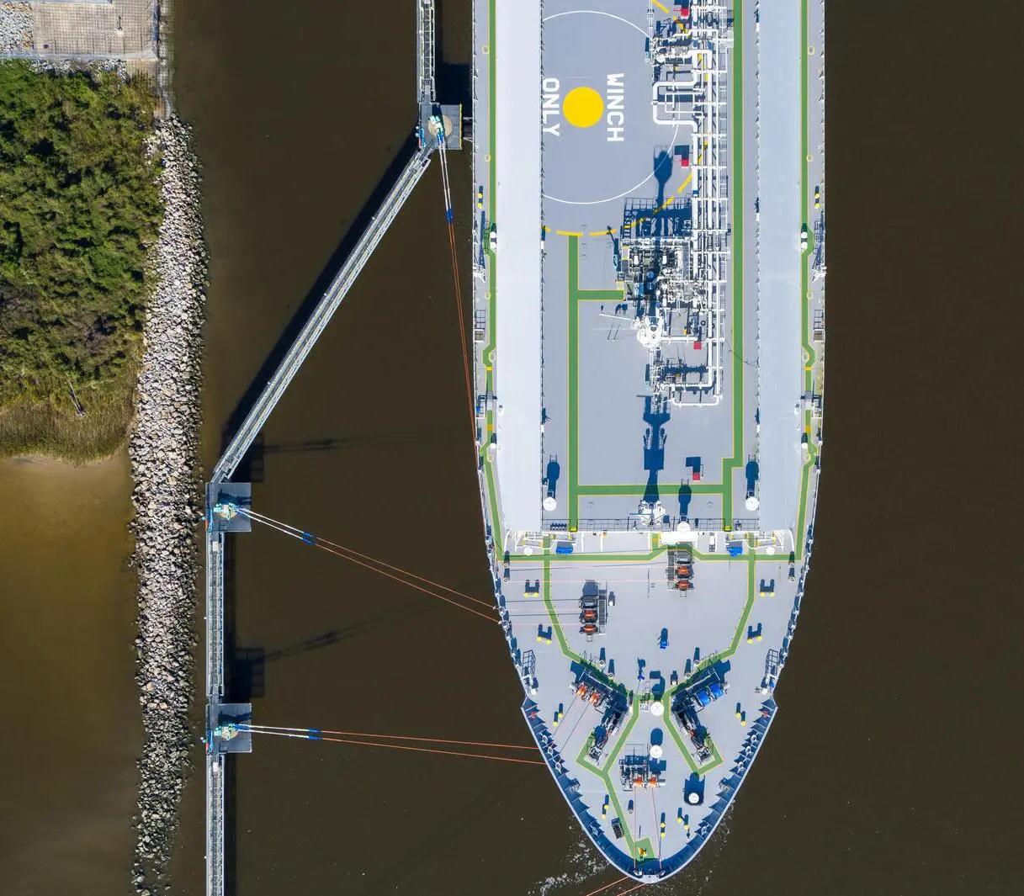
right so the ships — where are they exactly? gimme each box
[474,0,825,884]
